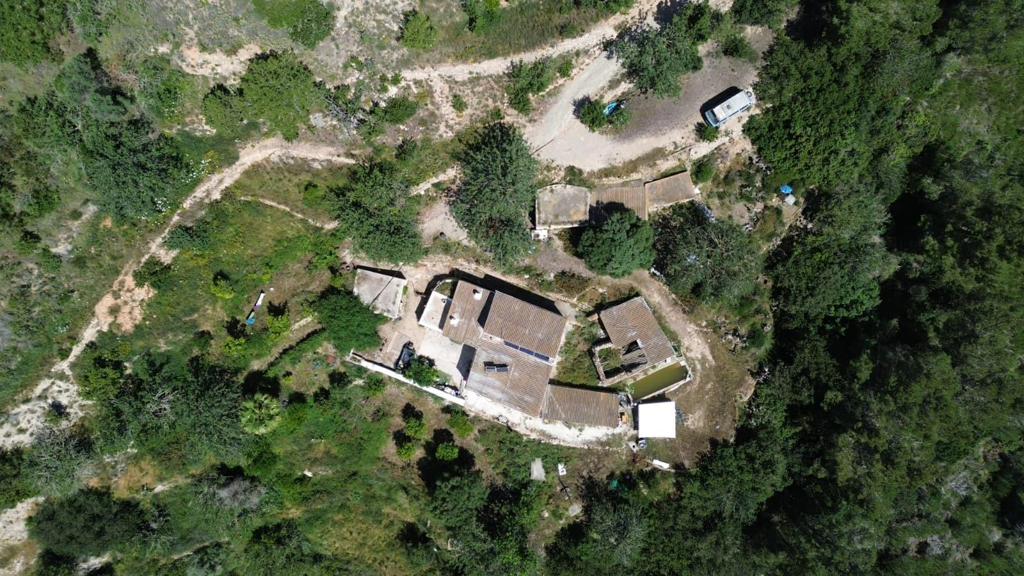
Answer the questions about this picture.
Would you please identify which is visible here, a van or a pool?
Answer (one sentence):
It is a van that can be seen here.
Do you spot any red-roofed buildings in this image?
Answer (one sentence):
No, no red-roofed building is visible in the scene.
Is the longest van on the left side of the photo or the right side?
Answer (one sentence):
The longest van sits on the right side.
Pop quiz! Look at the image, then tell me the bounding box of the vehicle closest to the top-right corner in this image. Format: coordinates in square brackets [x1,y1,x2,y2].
[700,88,756,127]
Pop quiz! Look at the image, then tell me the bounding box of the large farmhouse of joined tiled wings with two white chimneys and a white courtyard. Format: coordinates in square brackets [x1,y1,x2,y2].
[419,279,619,428]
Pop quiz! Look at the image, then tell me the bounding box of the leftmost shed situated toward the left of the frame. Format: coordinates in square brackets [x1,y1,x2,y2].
[353,268,409,319]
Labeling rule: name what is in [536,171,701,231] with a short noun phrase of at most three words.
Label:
shed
